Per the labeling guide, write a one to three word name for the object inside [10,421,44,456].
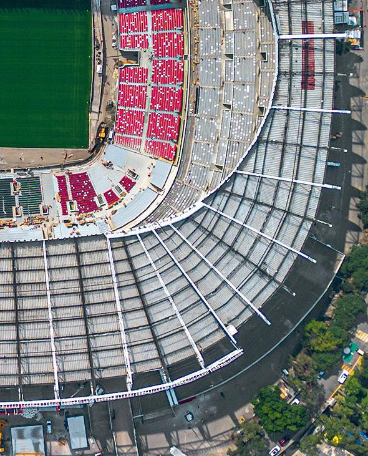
shed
